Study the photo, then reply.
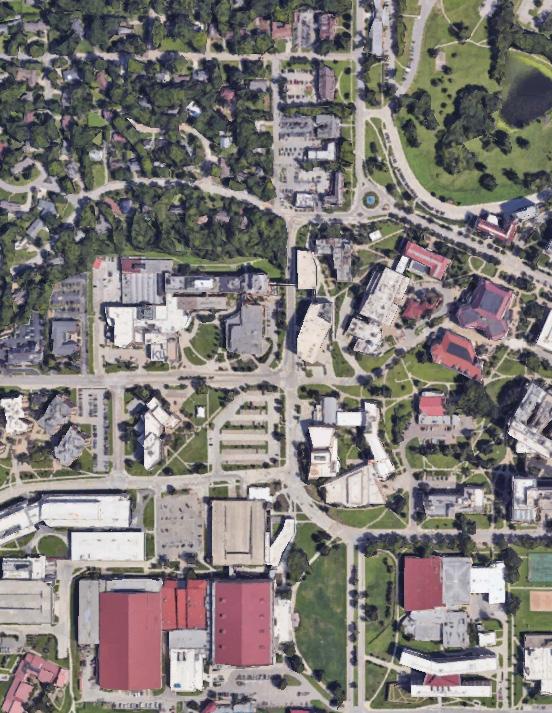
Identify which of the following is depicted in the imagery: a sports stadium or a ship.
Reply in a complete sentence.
I can see a sports stadium in this picture.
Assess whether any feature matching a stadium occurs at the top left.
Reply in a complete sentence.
No, no stadium is visible at the top left.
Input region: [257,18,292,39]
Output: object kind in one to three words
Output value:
house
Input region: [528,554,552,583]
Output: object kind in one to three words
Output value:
tennis court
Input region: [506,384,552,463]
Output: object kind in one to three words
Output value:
building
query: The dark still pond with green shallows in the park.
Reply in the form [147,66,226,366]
[500,53,552,127]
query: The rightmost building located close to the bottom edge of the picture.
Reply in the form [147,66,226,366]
[523,634,552,695]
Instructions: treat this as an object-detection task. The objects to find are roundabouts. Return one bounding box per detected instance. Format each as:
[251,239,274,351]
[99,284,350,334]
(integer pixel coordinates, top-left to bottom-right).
[349,169,393,223]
